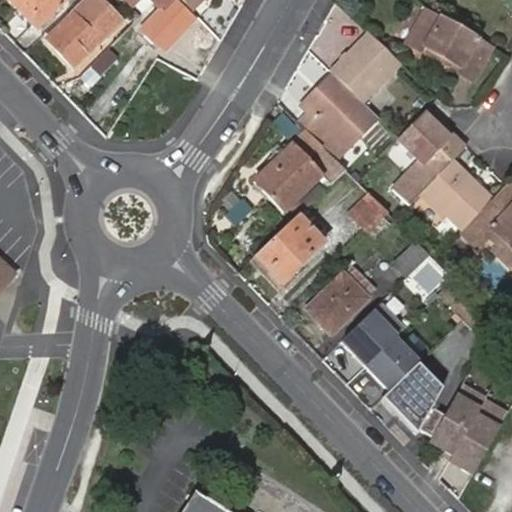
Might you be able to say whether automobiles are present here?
Yes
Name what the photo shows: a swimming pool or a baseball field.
swimming pool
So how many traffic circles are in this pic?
one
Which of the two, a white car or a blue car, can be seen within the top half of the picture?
white car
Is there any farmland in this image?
No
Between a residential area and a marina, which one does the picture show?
residential area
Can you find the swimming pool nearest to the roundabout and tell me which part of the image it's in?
center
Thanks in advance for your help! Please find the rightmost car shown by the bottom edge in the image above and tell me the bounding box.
[473,471,495,488]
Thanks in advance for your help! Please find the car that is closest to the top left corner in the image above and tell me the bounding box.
[14,62,33,80]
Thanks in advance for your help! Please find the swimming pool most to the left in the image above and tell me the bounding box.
[226,196,254,224]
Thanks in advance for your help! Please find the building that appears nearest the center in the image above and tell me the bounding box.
[250,212,328,292]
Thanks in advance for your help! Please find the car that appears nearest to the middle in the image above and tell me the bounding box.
[274,330,292,350]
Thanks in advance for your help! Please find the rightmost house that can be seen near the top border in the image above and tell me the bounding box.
[424,16,496,84]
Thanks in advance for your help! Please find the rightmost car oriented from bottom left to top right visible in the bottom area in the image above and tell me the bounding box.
[352,376,372,394]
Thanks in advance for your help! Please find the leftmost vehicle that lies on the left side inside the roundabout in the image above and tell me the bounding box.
[67,172,83,196]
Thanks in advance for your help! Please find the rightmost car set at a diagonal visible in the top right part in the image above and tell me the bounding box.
[482,89,500,109]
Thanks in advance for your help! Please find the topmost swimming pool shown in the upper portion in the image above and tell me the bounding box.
[272,111,302,140]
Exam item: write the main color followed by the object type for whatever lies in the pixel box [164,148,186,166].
white car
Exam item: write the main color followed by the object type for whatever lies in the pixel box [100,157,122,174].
white car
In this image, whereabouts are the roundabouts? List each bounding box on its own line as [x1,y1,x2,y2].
[60,147,198,297]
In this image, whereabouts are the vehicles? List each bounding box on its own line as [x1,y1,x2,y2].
[115,279,133,298]
[67,172,83,196]
[473,471,495,488]
[110,86,127,106]
[364,425,384,446]
[336,348,346,368]
[274,330,292,350]
[164,148,186,166]
[482,89,500,109]
[375,474,394,495]
[14,62,33,80]
[444,507,455,512]
[100,157,122,174]
[32,82,52,104]
[352,376,372,394]
[219,120,238,142]
[340,26,358,36]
